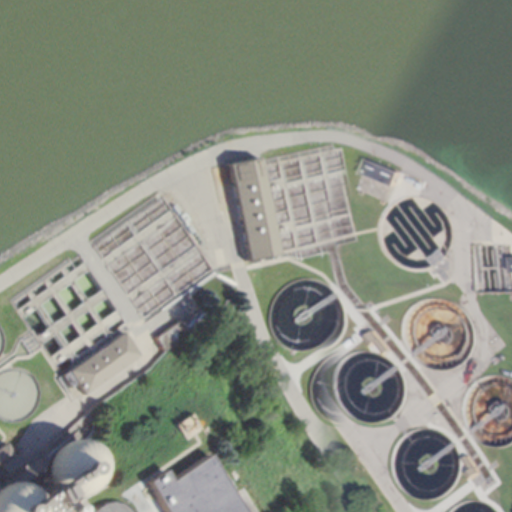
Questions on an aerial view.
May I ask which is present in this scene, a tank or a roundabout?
tank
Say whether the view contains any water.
Yes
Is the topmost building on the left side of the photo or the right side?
right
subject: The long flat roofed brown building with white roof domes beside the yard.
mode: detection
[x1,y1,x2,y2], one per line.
[228,160,274,261]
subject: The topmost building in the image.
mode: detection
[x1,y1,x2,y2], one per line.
[358,160,394,200]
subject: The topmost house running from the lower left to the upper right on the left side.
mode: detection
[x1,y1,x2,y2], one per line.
[69,336,138,396]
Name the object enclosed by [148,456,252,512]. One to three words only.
building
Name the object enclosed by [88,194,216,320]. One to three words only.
storage tank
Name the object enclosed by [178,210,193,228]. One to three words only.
vehicle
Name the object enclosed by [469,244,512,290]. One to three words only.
storage tank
